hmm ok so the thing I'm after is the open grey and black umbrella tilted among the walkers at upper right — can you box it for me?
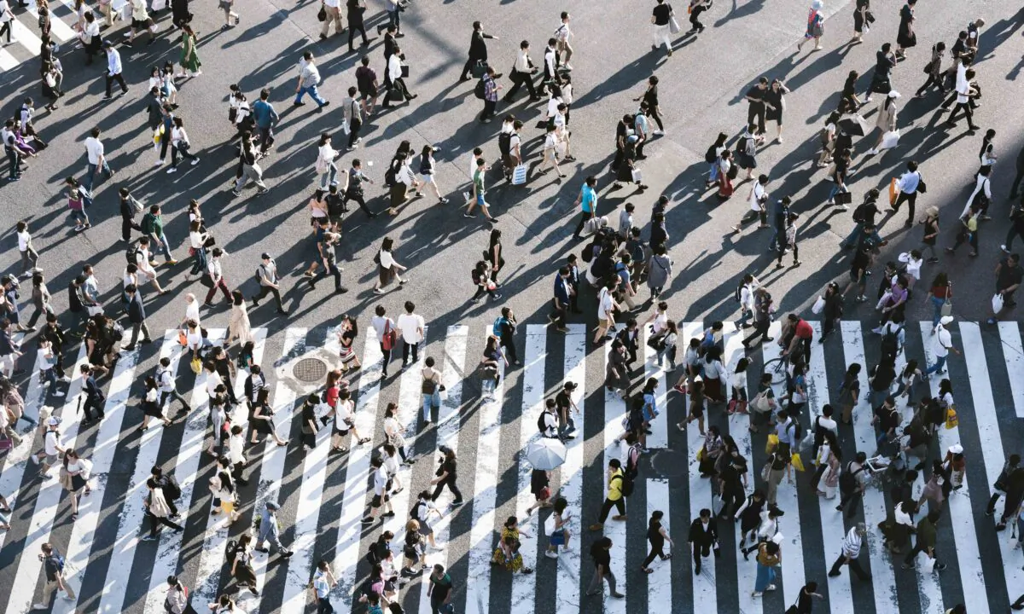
[842,114,873,147]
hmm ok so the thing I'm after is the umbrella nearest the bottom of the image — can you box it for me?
[527,442,568,484]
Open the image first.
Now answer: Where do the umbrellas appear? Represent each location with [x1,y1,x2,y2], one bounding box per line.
[842,114,873,147]
[527,442,568,484]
